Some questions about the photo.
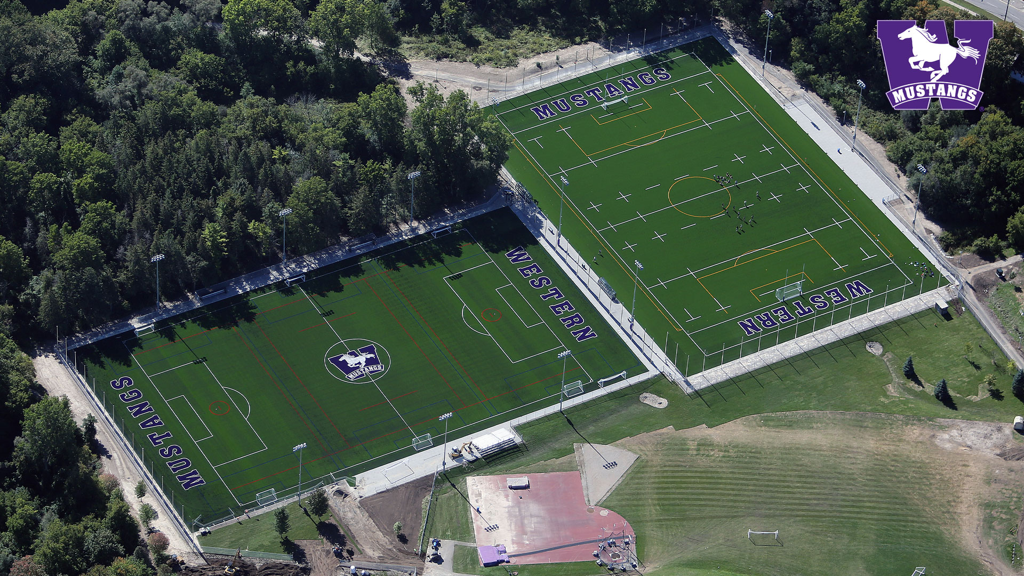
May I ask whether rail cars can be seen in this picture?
No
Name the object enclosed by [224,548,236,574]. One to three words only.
vehicle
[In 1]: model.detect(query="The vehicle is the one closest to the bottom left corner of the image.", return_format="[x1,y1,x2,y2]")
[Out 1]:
[168,553,189,567]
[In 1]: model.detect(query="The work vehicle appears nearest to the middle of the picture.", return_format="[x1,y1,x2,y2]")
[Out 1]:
[449,441,469,462]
